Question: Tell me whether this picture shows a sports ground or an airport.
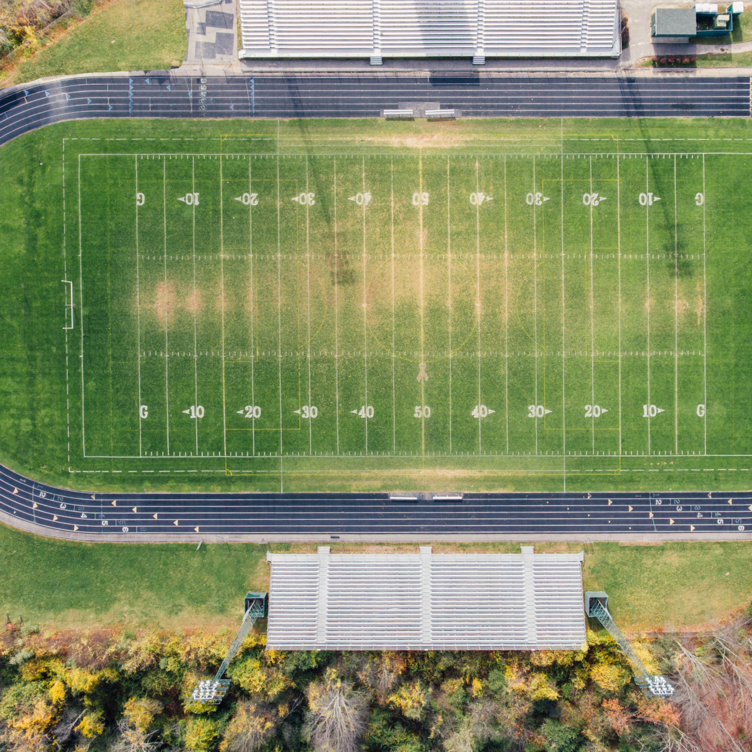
sports ground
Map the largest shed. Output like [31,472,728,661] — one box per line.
[653,8,697,39]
